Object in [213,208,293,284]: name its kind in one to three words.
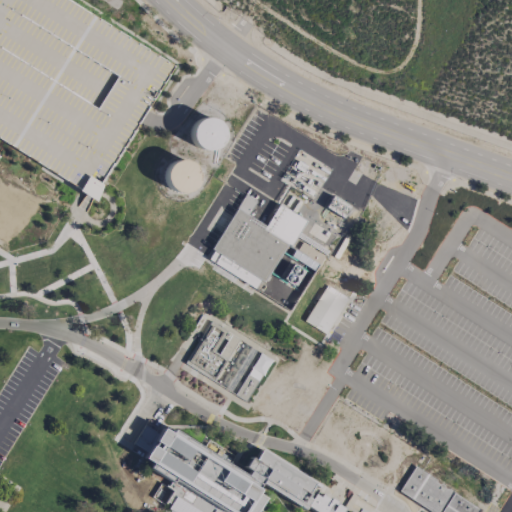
building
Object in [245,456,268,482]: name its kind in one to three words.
building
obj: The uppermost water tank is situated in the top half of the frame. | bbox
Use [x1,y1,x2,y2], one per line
[188,116,230,154]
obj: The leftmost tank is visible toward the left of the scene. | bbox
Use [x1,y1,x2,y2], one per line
[162,158,204,198]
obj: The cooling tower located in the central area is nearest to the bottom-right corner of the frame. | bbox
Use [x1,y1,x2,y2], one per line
[285,264,308,288]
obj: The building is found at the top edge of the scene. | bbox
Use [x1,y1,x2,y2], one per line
[0,0,176,202]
